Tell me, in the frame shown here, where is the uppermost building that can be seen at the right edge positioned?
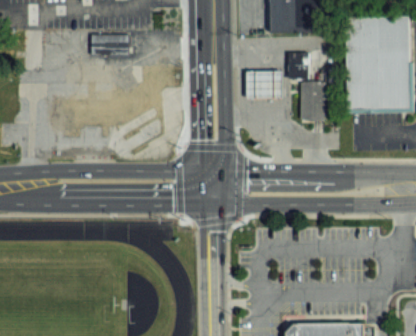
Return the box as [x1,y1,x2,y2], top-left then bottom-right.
[346,16,416,116]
